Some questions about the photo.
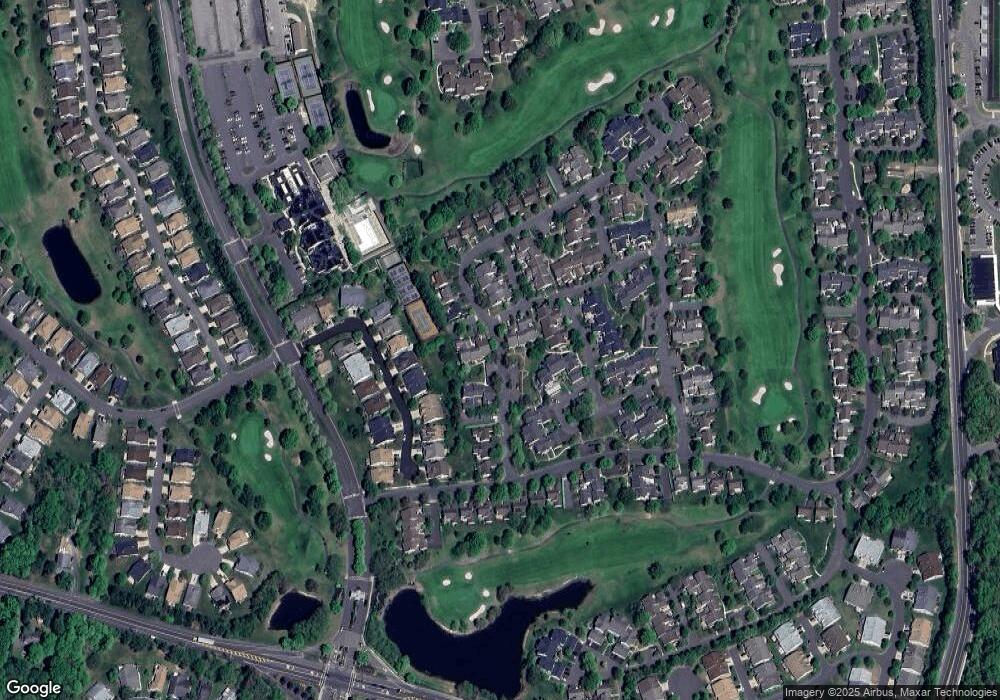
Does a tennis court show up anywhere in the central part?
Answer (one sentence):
Yes, the scene does show a tennis court in the central part.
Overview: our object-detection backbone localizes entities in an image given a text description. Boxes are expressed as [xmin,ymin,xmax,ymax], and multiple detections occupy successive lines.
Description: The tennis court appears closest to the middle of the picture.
[404,300,438,341]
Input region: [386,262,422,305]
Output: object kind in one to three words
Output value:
sports court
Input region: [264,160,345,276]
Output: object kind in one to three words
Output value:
building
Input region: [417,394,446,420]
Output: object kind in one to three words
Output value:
house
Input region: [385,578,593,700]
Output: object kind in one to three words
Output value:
pond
